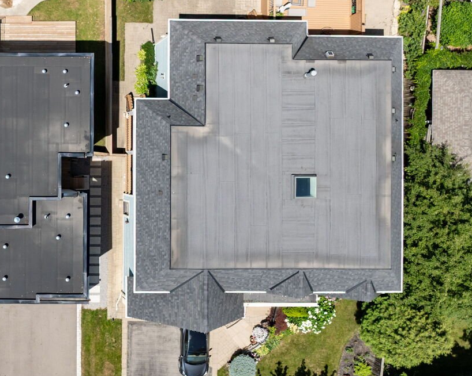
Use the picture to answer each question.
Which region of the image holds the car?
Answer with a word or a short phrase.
bottom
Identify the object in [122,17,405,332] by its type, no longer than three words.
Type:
house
